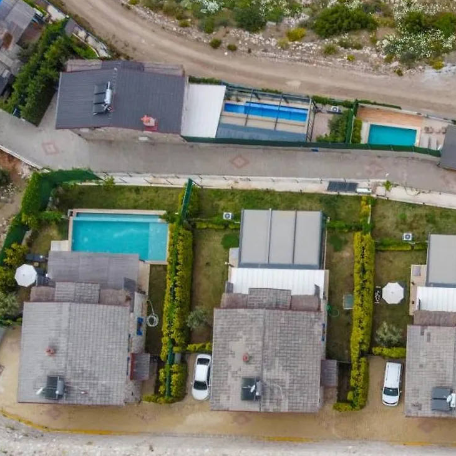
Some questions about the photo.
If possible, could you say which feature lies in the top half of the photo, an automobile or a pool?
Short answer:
pool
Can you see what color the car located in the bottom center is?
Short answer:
white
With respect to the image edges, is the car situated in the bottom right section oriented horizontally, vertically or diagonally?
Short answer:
vertically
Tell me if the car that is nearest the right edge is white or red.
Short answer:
white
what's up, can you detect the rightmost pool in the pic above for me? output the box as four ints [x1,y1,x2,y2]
[364,122,420,150]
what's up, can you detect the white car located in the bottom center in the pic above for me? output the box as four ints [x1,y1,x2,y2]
[191,354,212,400]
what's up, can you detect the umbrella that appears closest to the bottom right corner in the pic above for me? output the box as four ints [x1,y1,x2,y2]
[382,282,403,303]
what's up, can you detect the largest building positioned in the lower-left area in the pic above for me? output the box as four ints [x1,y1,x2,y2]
[18,282,150,406]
